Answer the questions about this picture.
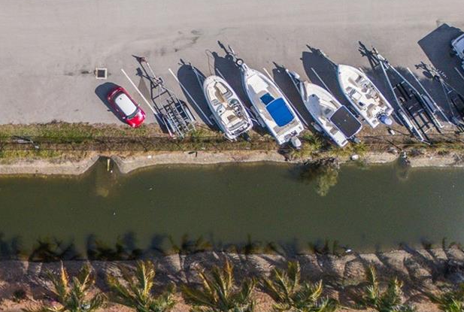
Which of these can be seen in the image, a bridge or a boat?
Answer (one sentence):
Of the two, only a boat appears.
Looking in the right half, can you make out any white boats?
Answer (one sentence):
Yes, a white boat shows up in the right half.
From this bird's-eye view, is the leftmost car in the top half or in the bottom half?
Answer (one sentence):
You can find the leftmost car in the top half.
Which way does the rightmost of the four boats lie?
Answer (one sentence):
In this picture, the rightmost of the four boats is oriented on a diagonal.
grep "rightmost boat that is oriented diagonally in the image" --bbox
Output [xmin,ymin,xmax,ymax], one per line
[342,69,392,137]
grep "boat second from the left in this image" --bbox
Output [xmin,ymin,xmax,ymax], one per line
[249,69,308,148]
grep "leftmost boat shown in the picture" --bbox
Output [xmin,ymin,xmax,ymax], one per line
[208,81,256,148]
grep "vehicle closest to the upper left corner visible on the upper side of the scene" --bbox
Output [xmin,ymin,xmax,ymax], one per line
[106,81,144,129]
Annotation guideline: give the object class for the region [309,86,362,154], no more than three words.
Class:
boat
